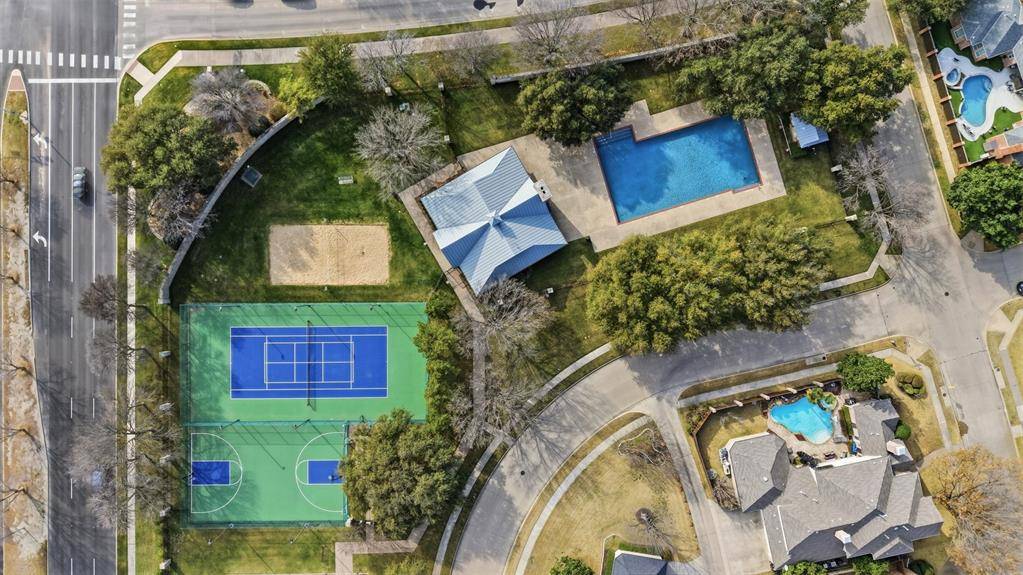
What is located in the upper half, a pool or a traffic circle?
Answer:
pool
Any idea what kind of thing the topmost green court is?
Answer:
tennis court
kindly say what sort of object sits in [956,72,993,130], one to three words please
swimming pool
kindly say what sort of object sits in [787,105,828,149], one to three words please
shed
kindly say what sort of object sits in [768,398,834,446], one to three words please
swimming pool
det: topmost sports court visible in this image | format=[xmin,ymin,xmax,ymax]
[269,224,390,286]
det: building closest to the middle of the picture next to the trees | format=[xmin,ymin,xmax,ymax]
[421,148,568,296]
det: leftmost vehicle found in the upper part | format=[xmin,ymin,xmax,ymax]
[70,167,88,198]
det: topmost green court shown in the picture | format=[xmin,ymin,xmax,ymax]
[182,303,428,420]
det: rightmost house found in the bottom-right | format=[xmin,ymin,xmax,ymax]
[725,399,943,567]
